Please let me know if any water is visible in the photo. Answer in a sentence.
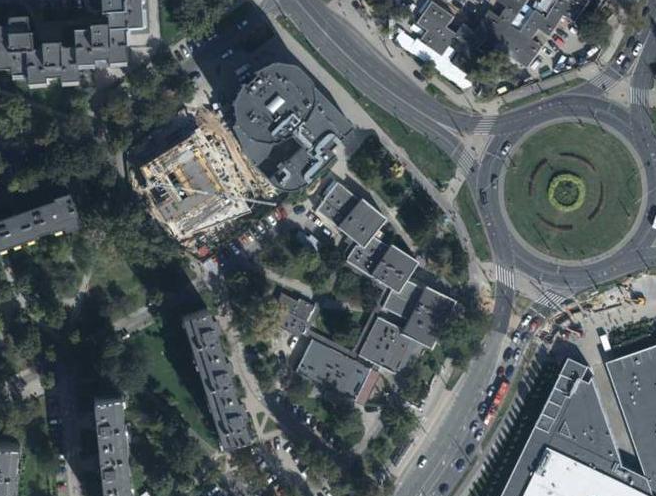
No, the picture contains no water.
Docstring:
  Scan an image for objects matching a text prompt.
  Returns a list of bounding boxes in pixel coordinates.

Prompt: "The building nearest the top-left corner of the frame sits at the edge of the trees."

[0,0,149,88]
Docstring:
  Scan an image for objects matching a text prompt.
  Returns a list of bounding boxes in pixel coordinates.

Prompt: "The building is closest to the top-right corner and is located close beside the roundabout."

[492,0,588,70]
